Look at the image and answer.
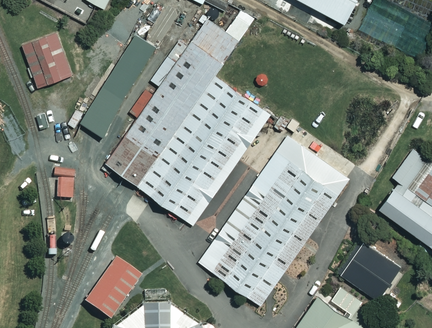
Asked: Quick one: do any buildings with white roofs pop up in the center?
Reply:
Yes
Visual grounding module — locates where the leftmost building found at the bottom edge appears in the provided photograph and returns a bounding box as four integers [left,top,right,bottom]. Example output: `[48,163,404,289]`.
[85,258,142,318]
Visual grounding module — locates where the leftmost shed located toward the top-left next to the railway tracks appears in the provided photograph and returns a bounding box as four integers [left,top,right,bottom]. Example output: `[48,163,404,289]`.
[22,32,72,88]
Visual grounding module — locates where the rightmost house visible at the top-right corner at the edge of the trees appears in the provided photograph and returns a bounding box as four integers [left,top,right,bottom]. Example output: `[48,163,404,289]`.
[358,0,432,56]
